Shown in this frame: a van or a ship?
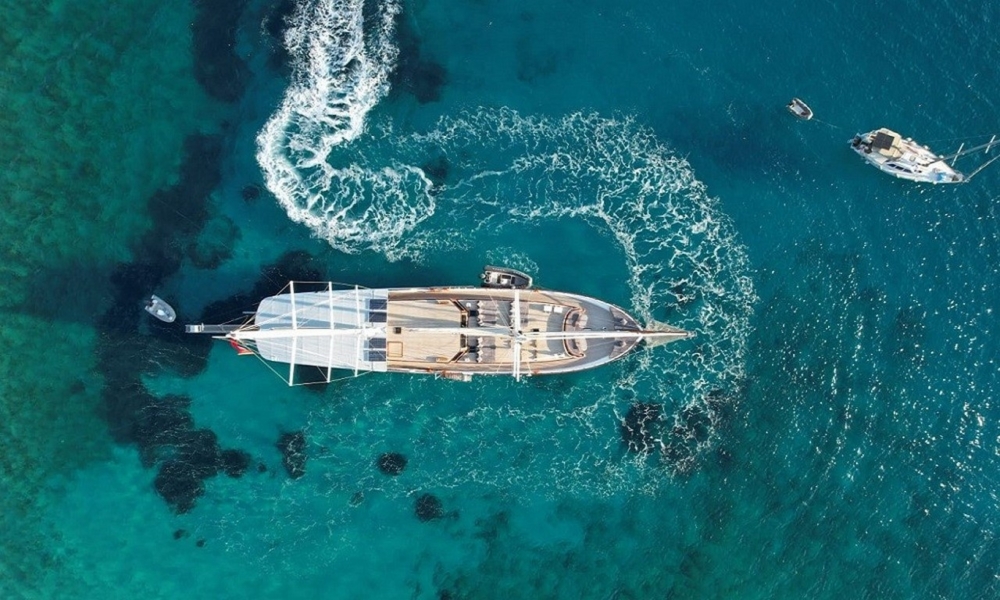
ship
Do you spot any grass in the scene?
No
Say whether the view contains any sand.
No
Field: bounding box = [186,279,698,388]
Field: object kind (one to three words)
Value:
ship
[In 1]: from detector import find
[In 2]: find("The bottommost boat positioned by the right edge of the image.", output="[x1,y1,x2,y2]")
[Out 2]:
[847,120,1000,185]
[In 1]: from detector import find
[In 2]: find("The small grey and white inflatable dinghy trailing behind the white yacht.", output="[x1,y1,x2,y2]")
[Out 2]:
[787,99,812,119]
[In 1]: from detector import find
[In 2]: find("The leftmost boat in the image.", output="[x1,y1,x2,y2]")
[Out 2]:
[146,295,177,322]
